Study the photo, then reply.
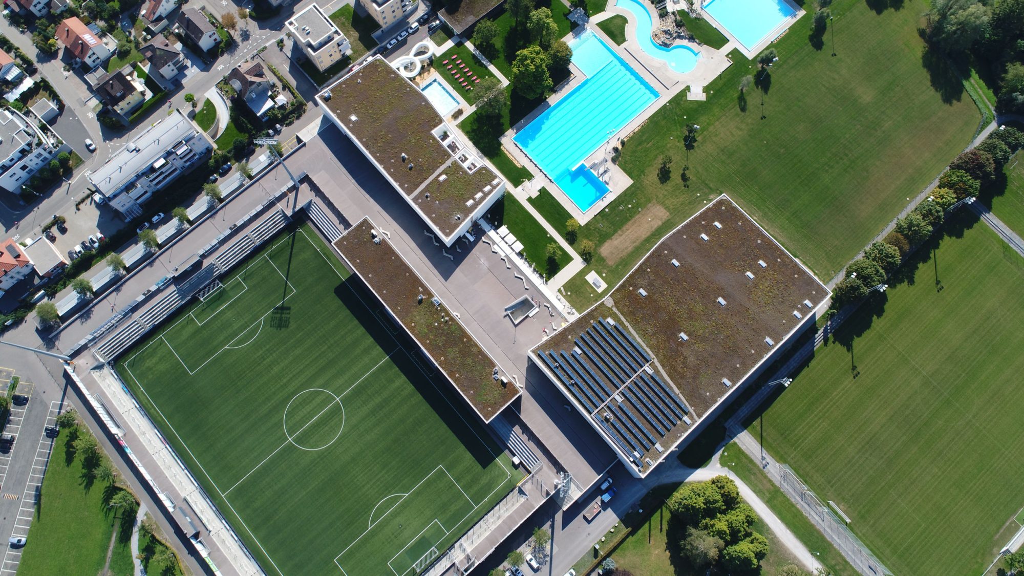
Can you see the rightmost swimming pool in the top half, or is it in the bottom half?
top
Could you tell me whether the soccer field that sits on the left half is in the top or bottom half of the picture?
bottom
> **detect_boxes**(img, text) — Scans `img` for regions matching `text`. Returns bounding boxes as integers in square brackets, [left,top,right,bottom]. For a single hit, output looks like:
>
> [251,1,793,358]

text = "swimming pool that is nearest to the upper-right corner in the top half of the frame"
[701,0,798,51]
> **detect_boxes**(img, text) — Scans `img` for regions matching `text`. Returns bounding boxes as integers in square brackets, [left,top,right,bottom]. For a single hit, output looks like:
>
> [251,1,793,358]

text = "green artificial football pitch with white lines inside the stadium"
[111,216,527,576]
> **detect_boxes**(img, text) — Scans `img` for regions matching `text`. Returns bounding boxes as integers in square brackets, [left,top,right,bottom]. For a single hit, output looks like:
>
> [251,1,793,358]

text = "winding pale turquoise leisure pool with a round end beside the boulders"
[614,0,699,74]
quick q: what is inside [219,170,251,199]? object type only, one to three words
shed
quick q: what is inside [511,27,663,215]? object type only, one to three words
swimming pool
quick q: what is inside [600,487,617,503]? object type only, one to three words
vehicle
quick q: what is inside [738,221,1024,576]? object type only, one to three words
sports field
